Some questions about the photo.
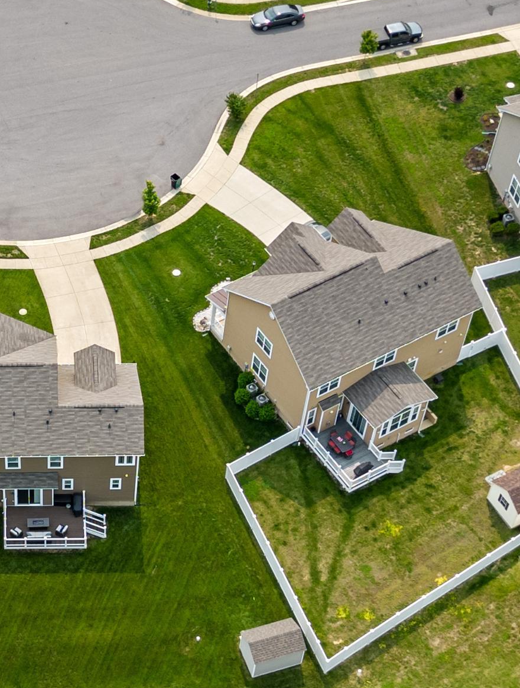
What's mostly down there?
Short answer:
grass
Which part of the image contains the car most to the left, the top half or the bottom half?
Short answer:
top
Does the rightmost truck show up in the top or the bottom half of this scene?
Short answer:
top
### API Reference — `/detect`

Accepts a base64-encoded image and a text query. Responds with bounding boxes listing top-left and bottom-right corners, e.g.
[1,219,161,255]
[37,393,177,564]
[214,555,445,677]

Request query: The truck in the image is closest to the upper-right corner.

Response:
[363,17,429,51]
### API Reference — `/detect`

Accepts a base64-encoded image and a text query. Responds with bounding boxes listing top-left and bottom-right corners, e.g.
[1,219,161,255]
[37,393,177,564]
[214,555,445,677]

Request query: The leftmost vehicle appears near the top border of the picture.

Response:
[249,4,306,32]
